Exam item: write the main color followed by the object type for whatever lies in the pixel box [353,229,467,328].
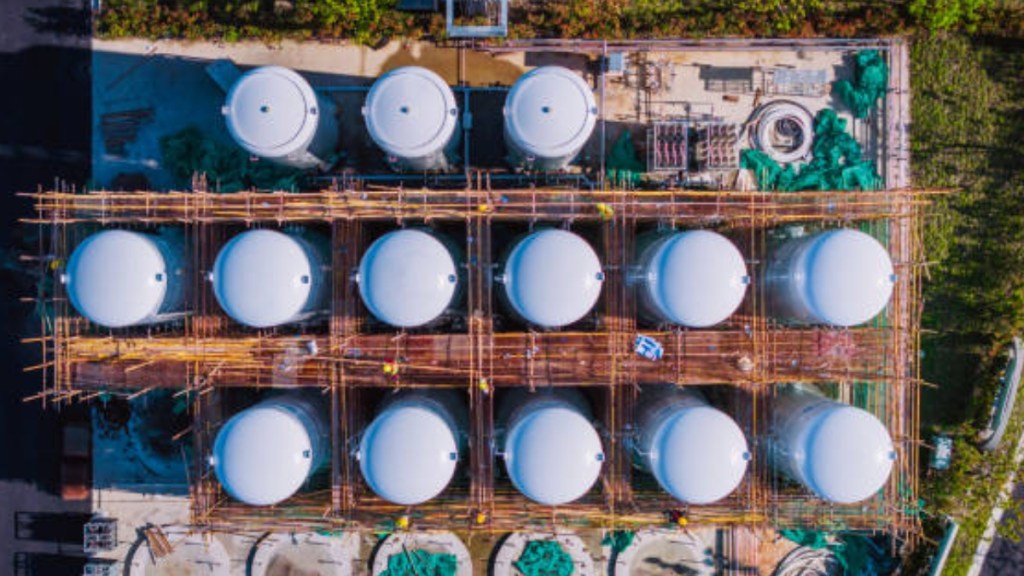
white storage tank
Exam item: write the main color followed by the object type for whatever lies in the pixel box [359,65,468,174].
white storage tank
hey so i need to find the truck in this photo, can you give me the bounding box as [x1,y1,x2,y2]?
[59,428,89,503]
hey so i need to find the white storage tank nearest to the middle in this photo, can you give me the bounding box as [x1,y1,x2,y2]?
[493,229,602,328]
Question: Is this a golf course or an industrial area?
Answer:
industrial area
